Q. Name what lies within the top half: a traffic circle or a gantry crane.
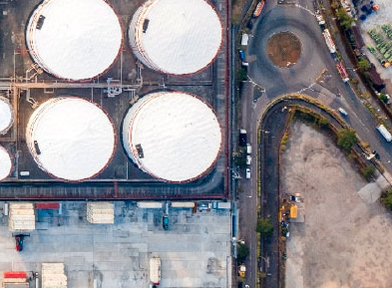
traffic circle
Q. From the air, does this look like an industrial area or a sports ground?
industrial area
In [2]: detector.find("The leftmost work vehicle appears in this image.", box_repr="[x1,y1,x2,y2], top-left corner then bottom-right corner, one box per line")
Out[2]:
[12,234,31,251]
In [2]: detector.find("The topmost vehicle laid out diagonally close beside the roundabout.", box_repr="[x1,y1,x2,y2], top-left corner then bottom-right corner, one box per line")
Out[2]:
[252,0,267,17]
